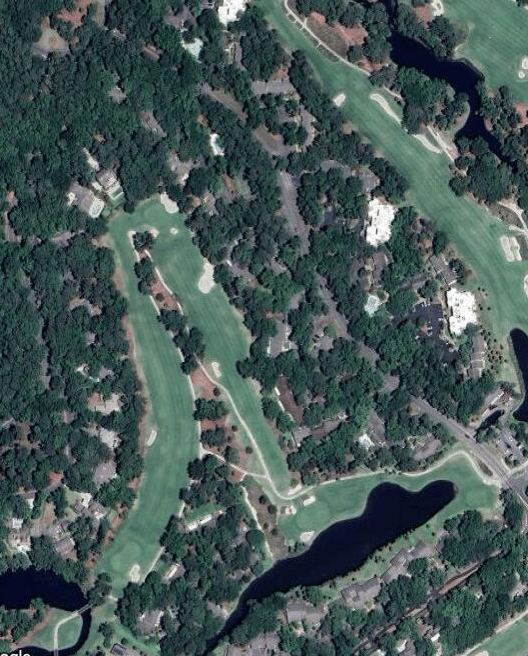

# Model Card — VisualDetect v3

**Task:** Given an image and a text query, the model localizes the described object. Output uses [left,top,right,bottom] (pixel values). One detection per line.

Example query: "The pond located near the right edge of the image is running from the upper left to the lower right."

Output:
[356,0,519,170]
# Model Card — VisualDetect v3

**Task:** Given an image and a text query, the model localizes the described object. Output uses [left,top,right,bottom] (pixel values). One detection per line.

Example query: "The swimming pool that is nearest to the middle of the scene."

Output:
[365,295,381,316]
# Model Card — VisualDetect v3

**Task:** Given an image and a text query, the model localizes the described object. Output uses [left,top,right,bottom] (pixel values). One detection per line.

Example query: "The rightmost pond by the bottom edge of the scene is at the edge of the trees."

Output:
[201,480,457,656]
